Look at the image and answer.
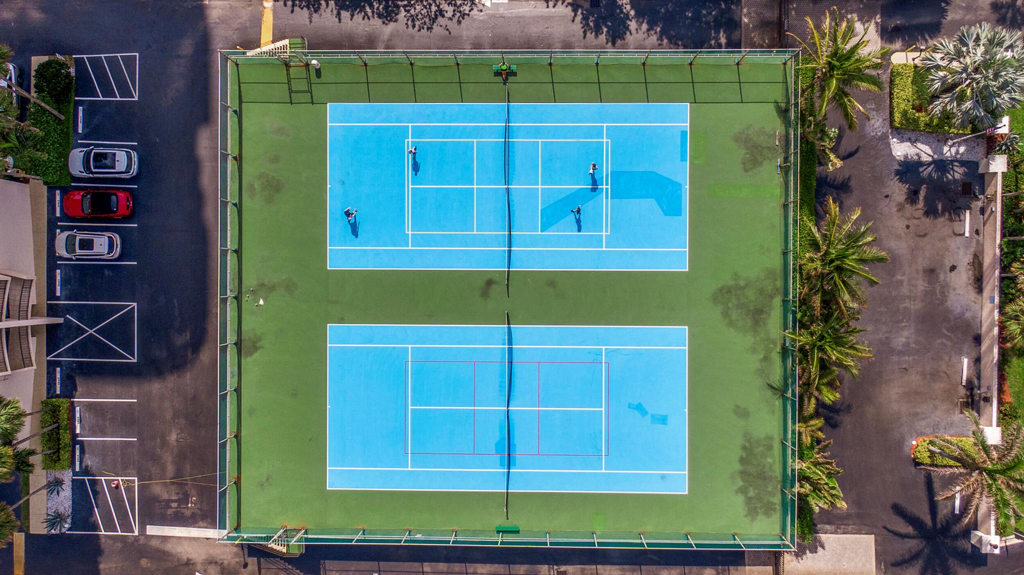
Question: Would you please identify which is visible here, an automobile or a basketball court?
automobile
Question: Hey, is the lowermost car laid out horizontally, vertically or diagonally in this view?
horizontally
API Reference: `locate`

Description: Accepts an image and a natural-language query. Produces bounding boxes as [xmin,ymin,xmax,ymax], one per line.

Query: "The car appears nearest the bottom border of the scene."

[56,228,122,262]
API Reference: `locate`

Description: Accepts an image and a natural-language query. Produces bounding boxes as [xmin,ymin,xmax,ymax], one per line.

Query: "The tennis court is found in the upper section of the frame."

[327,102,690,271]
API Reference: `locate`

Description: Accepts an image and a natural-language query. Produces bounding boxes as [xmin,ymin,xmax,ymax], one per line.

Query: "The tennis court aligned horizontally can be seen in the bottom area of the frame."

[326,324,688,494]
